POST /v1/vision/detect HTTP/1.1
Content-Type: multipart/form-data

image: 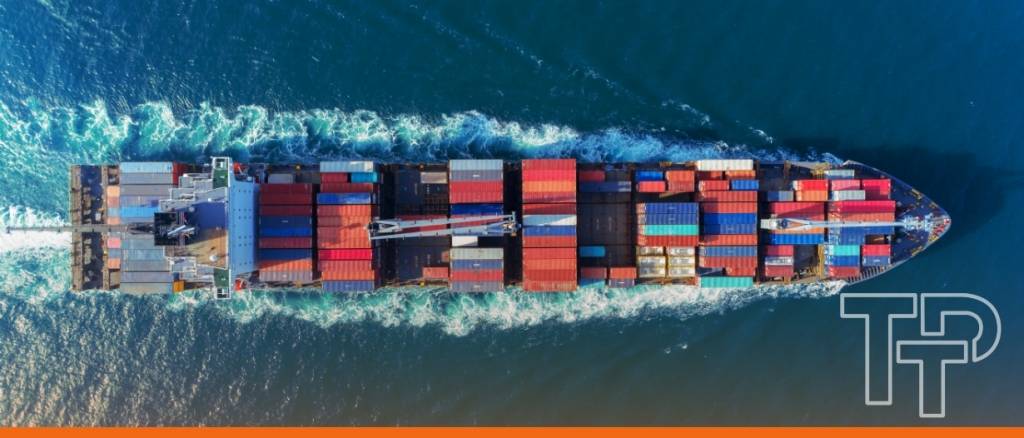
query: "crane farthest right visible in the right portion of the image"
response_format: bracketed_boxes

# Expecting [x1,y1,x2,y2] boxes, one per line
[757,215,900,235]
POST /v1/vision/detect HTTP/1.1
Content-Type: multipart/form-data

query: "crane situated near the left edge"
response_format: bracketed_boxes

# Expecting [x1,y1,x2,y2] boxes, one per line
[7,223,156,236]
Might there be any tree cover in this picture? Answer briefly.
No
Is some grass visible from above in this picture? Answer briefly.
No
